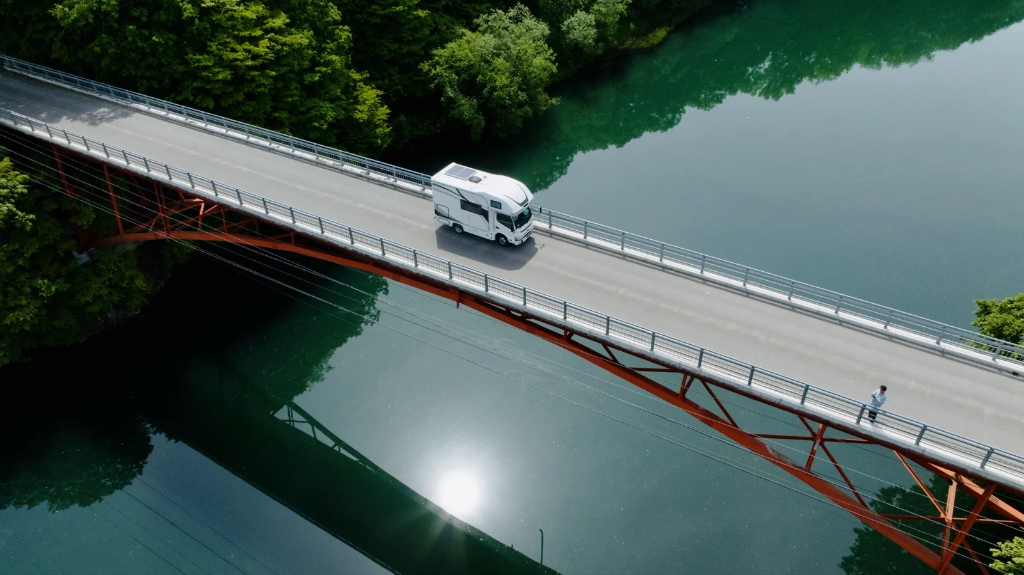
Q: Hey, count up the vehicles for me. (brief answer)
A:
1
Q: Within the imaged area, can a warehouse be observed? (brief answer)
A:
No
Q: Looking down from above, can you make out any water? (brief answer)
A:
Yes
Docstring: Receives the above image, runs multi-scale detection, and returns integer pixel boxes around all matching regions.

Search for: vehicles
[433,163,540,246]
